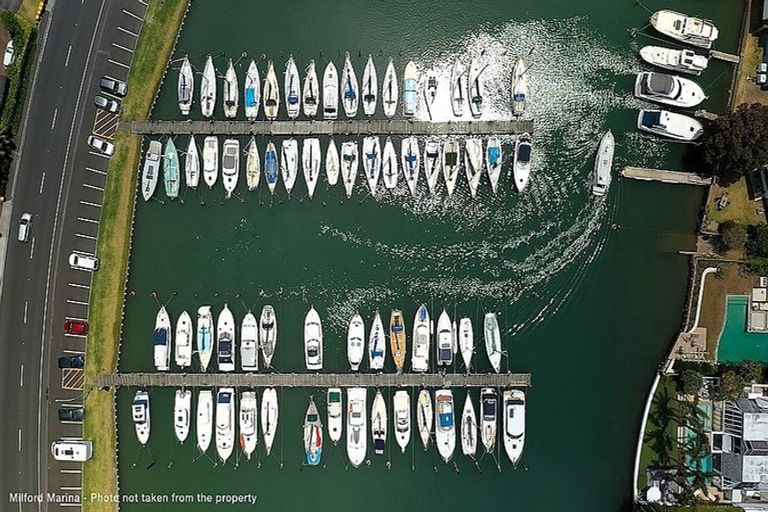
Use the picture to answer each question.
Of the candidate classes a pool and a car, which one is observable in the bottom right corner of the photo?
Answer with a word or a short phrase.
pool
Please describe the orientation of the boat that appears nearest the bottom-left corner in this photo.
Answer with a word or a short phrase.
up and down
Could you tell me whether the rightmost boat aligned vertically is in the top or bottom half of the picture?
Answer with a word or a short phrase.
top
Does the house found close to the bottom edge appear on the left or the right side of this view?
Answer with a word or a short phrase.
right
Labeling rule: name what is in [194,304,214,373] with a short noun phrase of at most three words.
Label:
boat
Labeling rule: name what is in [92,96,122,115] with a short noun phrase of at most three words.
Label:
car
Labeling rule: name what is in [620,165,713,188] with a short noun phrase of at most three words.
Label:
pier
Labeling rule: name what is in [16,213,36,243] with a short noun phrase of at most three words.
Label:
car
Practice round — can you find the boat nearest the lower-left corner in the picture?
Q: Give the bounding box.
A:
[132,389,152,464]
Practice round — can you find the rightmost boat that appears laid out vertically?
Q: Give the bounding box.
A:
[592,129,614,197]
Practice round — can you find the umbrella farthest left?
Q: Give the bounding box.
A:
[646,487,662,502]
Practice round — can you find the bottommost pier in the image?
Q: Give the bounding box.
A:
[98,370,531,390]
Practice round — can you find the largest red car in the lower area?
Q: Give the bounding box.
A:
[63,320,90,334]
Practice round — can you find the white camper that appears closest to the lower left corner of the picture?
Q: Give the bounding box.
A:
[49,442,97,461]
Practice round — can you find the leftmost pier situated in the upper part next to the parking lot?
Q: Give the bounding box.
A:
[131,119,534,138]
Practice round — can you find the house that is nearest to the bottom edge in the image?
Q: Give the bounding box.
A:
[706,383,768,512]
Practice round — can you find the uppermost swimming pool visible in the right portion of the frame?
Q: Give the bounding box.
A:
[716,296,768,364]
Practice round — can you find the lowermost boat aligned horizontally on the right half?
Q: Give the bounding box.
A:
[634,112,706,140]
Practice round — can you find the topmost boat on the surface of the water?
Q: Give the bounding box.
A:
[637,3,718,48]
